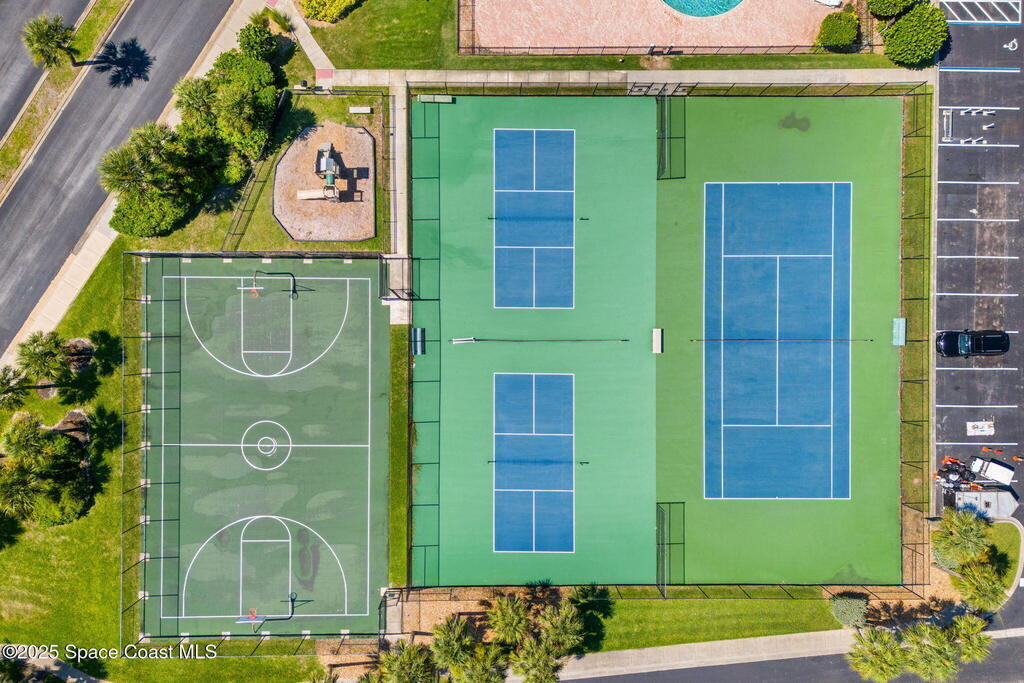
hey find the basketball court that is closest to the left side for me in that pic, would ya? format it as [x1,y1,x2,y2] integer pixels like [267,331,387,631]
[140,258,390,640]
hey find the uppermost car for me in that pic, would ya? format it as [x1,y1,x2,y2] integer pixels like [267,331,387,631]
[936,329,1008,360]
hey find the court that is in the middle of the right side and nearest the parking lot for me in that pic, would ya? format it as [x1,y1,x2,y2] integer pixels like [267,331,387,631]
[657,96,901,585]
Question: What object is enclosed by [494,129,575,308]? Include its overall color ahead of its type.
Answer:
blue sports court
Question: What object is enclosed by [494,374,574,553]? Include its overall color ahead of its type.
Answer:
blue sports court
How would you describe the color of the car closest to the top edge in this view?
black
